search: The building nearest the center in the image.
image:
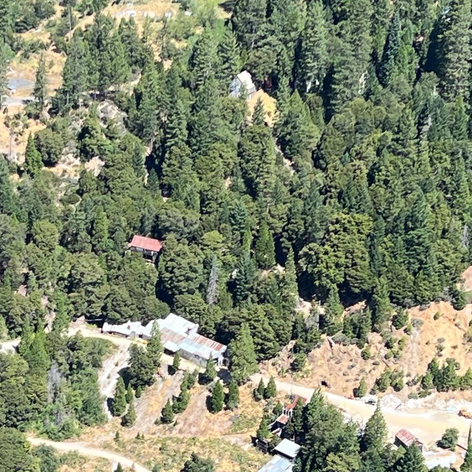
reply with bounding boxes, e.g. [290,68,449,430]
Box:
[129,234,164,263]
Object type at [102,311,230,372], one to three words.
building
